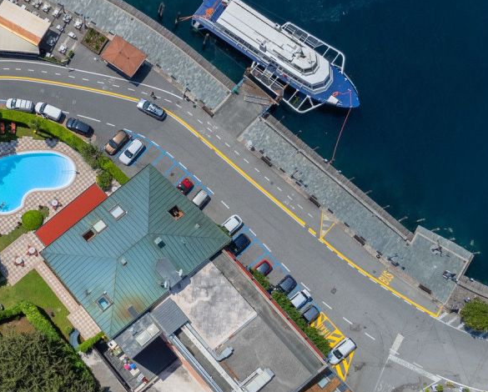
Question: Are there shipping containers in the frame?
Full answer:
No, there isn't any shipping container down there.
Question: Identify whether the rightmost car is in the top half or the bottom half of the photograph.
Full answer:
The rightmost car is in the bottom half of the image.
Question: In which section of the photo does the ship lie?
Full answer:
Look in the top portion of the view to spot the ship.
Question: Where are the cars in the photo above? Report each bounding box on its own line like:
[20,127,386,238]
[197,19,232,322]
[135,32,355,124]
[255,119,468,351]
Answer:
[191,188,211,207]
[220,211,244,236]
[65,117,92,138]
[287,286,314,310]
[325,337,355,365]
[257,256,274,274]
[119,138,145,165]
[176,174,196,195]
[226,231,251,256]
[104,129,130,154]
[300,300,323,323]
[270,270,298,294]
[5,97,36,112]
[34,101,65,122]
[136,98,166,121]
